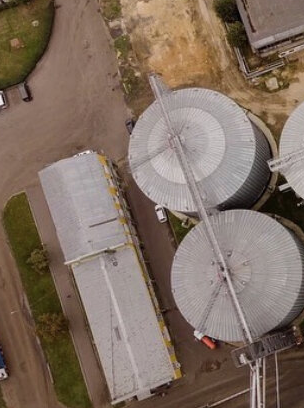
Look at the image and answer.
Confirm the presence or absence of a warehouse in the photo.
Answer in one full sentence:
Yes, a warehouse is visible in the scene.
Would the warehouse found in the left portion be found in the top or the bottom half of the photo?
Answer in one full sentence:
The warehouse found in the left portion is in the bottom half of the image.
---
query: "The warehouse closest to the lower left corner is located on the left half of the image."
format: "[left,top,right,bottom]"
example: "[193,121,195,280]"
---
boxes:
[39,154,182,402]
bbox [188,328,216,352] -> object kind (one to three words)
truck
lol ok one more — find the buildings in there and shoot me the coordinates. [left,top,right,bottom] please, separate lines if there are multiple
[39,154,182,402]
[237,0,304,61]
